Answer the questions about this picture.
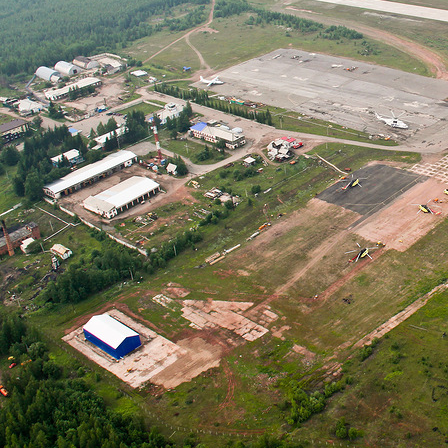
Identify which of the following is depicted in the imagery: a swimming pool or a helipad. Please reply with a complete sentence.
There is a helipad in the scene.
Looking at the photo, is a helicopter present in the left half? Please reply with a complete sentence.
No, I see no helicopter in the left half.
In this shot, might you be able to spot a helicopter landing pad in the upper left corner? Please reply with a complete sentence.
No, no helicopter landing pad is visible in the upper left corner.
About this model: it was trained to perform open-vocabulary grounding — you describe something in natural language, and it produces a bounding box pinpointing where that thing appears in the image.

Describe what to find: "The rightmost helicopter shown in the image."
[415,199,446,214]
